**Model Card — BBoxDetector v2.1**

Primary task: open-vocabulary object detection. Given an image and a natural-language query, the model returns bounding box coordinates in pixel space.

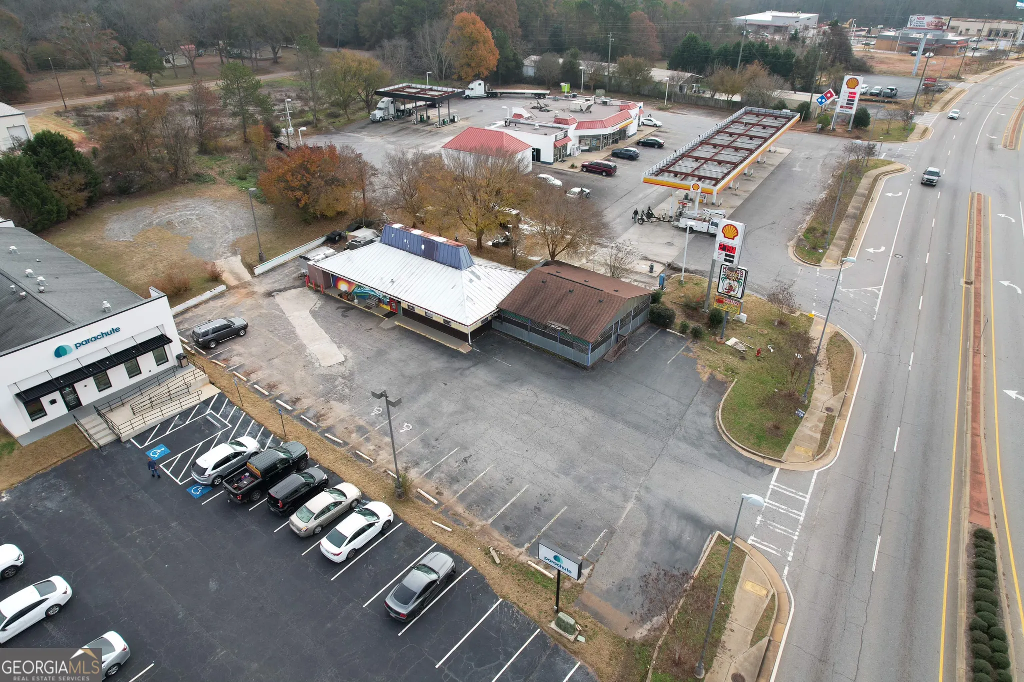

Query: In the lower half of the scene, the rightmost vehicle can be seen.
[383,549,460,624]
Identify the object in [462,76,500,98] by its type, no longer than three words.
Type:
truck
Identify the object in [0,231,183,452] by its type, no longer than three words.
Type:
building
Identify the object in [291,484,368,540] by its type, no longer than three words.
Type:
car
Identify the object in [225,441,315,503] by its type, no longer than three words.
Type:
vehicle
